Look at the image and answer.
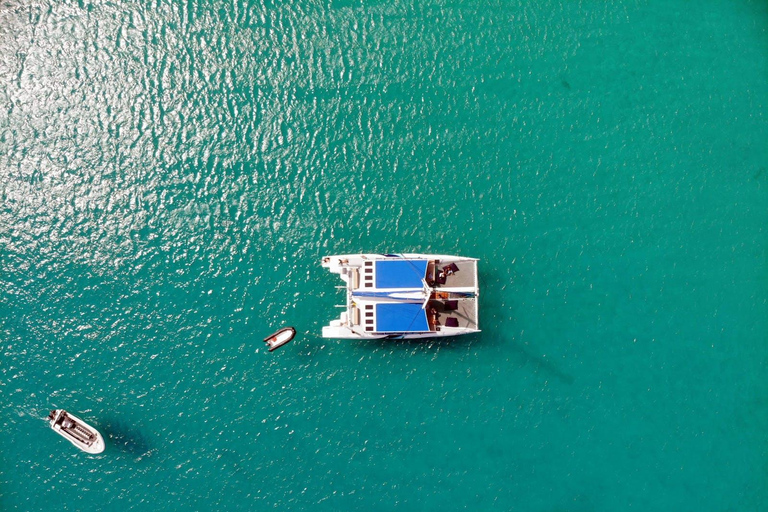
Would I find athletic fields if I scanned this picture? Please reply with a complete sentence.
No, the scene contains no athletic field.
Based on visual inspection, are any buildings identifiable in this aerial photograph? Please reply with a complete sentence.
No, there isn't any building down there.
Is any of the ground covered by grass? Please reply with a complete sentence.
No, there is no grass in the image.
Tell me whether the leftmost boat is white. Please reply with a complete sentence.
Yes, the leftmost boat appears white.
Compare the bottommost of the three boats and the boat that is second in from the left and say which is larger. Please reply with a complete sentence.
The bottommost of the three boats takes up more space than the boat that is second in from the left does.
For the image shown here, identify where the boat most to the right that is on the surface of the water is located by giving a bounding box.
[322,253,485,340]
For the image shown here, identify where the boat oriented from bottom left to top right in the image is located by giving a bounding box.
[263,325,296,352]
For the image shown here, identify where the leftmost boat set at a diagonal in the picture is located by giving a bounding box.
[45,407,104,455]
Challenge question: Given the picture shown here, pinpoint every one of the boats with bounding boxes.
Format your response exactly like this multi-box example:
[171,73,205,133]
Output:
[263,325,296,352]
[322,253,485,340]
[45,407,104,455]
